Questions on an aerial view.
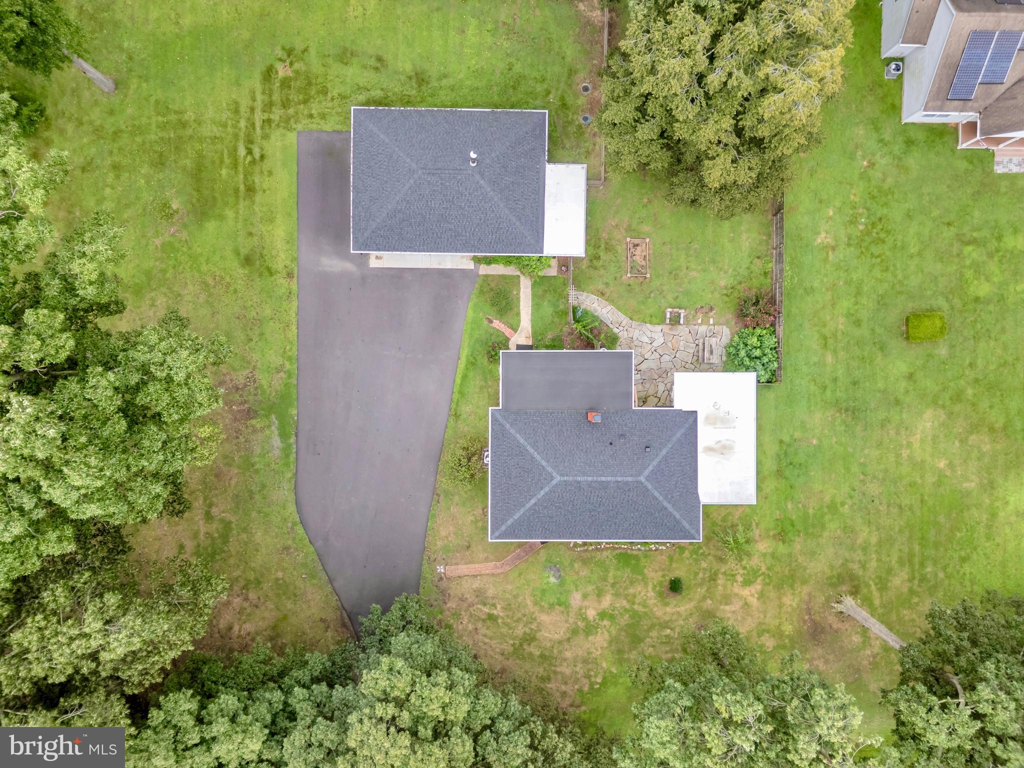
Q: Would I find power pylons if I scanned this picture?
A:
No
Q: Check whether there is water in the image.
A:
No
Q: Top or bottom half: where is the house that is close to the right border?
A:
top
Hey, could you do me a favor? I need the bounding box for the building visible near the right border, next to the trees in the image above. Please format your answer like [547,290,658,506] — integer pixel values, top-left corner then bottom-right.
[881,0,1024,159]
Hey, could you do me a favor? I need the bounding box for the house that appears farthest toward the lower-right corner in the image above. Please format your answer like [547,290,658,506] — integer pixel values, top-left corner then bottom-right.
[489,349,757,542]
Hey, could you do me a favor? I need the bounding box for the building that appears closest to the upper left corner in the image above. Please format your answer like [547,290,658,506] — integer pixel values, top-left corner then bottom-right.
[351,106,587,258]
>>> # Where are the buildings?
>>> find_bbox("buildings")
[881,0,1024,159]
[351,106,587,258]
[489,349,757,542]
